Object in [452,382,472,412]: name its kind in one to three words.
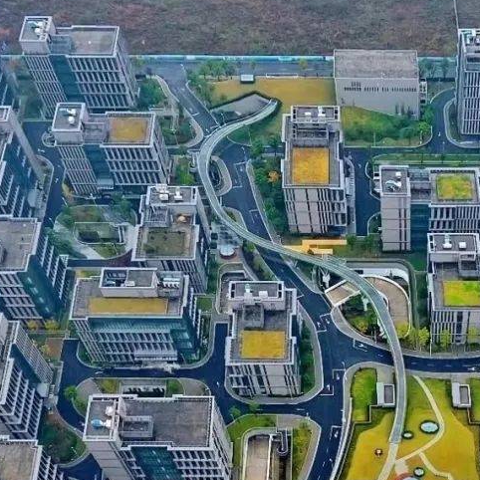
building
